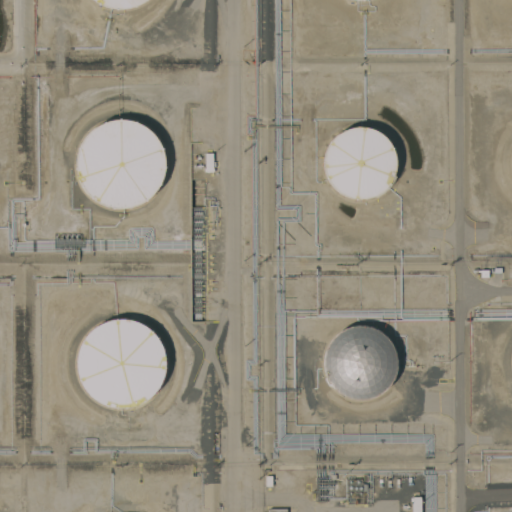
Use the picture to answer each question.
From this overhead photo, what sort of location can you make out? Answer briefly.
industrial area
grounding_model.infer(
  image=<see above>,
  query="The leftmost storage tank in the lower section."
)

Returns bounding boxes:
[76,318,168,411]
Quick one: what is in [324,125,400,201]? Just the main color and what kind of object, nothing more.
white storage tank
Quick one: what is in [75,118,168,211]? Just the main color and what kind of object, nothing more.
white storage tank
